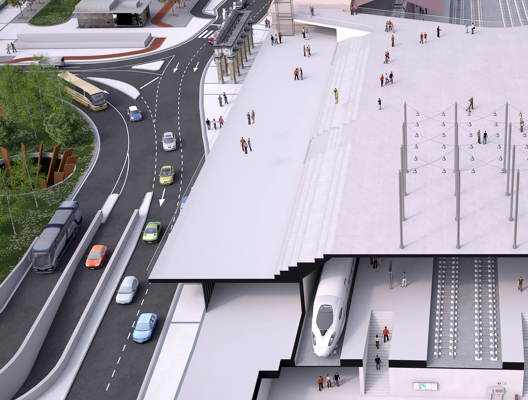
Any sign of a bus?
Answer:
Yes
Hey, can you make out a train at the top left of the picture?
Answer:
No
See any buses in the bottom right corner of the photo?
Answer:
No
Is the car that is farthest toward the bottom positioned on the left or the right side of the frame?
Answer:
left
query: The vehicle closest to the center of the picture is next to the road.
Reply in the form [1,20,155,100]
[176,192,190,216]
